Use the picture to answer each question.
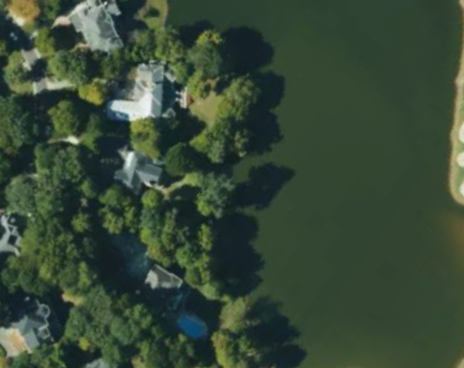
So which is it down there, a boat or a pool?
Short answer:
pool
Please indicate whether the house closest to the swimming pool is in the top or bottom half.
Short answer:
bottom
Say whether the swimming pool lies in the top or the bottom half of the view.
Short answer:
bottom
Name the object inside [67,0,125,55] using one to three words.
house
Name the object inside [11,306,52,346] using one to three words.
house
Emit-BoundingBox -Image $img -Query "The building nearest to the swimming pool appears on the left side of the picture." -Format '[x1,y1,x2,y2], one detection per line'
[144,261,184,293]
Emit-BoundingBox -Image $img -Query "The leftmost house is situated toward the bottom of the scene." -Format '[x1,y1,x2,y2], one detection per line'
[0,210,21,253]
